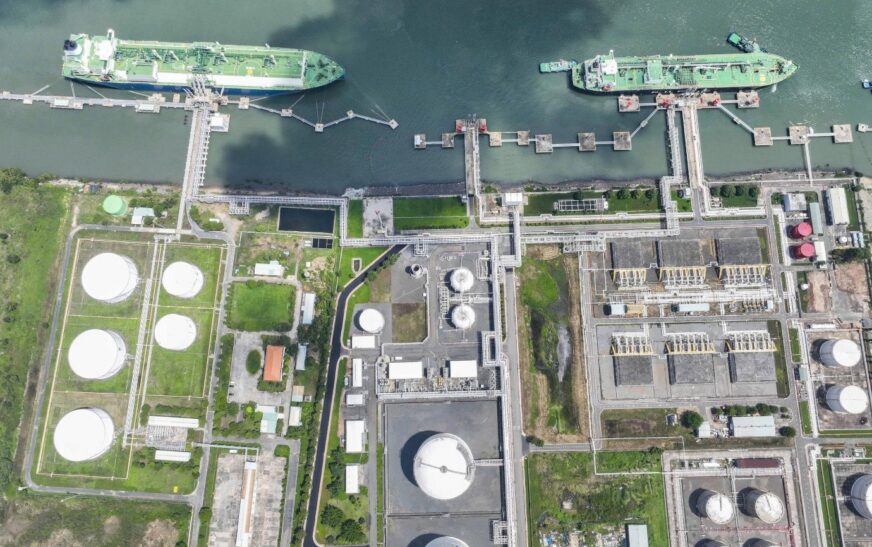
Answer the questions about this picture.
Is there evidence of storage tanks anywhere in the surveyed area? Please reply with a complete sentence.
Yes, there's a storage tank down there.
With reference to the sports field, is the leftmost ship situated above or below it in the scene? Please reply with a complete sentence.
From this view, the leftmost ship can be seen above the sports field.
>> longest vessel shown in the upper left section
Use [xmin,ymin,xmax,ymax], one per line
[58,30,344,95]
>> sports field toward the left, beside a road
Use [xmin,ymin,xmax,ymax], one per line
[228,284,292,329]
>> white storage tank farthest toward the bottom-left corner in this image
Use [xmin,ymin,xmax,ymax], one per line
[52,406,118,463]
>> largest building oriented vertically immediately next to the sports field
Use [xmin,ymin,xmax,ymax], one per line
[264,345,284,382]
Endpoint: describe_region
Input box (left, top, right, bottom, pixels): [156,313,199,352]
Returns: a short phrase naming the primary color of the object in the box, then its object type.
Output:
white storage tank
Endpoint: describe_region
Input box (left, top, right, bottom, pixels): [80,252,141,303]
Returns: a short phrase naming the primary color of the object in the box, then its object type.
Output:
white storage tank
